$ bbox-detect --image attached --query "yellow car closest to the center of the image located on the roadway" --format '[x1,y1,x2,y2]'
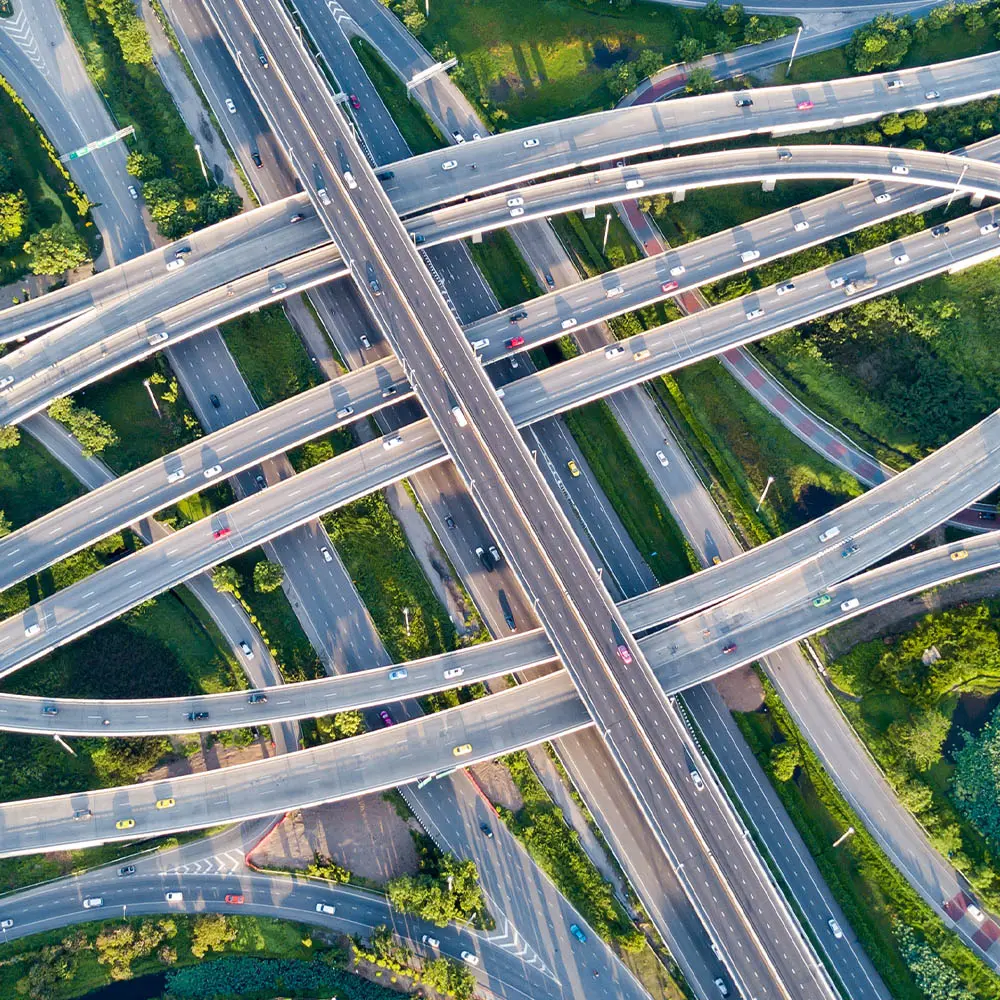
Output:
[567,460,580,477]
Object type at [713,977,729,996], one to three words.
car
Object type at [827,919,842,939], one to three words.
car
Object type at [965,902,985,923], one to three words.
vehicle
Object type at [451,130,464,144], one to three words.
vehicle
